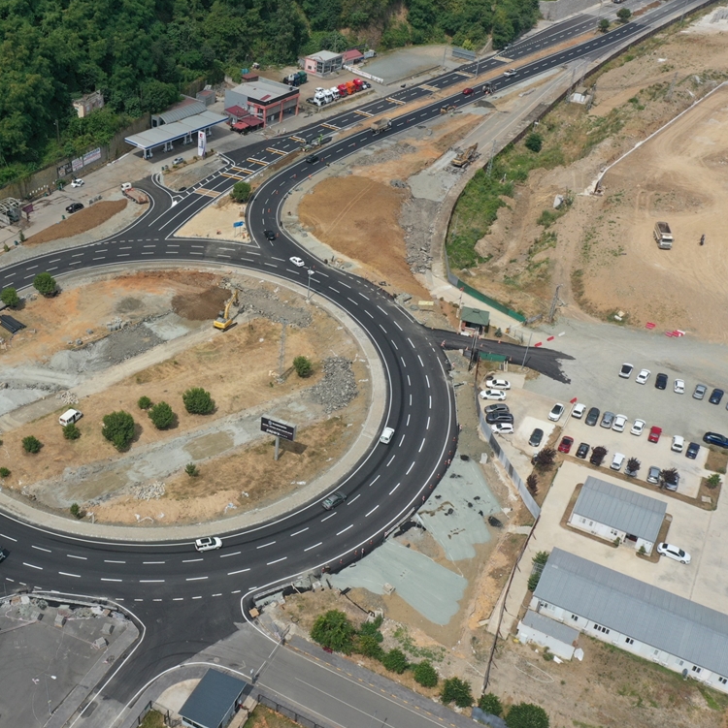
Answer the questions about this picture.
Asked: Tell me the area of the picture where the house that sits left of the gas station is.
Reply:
top left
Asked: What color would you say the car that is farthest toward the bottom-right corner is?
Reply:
white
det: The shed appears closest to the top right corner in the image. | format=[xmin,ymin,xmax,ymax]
[563,85,593,105]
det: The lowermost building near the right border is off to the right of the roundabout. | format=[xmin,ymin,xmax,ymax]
[531,549,728,695]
